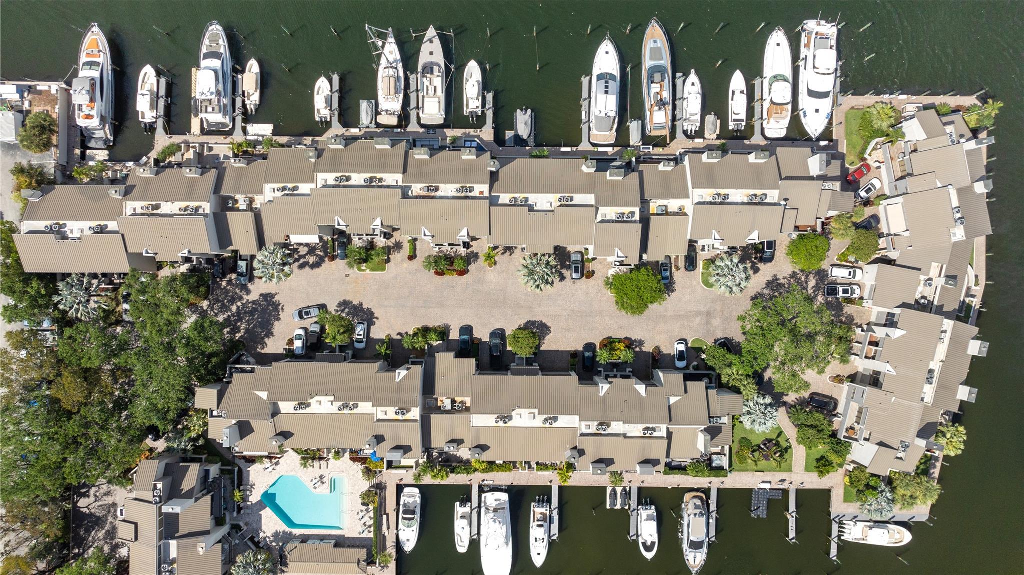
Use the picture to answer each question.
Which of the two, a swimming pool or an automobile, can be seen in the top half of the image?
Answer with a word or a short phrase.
automobile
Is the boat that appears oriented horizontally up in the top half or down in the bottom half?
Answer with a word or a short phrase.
bottom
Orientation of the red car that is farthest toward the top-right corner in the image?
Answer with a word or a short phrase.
diagonally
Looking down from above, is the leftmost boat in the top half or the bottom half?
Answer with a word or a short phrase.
top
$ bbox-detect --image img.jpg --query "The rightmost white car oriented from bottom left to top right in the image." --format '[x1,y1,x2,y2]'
[855,177,883,202]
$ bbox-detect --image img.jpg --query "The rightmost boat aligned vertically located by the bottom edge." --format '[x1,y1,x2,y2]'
[682,490,708,575]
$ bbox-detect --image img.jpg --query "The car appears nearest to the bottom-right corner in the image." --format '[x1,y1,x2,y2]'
[807,394,837,410]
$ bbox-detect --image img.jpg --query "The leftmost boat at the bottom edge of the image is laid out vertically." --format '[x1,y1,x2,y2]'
[399,486,422,555]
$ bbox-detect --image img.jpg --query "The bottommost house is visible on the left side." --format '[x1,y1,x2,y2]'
[285,533,371,575]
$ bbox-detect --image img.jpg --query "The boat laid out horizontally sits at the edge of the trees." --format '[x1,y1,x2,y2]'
[838,522,910,547]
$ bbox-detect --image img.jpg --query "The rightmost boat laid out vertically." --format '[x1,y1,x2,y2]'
[798,4,843,139]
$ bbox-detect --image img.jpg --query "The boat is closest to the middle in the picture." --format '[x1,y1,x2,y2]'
[515,106,534,140]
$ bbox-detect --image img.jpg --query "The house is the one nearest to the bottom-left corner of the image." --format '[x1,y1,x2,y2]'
[117,450,240,575]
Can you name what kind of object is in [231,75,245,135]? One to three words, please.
pier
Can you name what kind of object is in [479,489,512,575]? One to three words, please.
boat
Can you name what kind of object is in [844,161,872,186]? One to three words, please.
car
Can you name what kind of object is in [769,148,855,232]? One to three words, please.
house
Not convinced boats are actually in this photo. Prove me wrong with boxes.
[629,121,642,148]
[141,66,160,133]
[194,19,233,132]
[399,486,422,555]
[760,25,793,140]
[638,493,657,559]
[530,491,550,567]
[361,100,375,130]
[316,77,332,132]
[464,61,482,127]
[681,67,701,139]
[838,522,910,547]
[57,20,117,147]
[640,16,673,149]
[727,71,746,140]
[479,489,512,575]
[515,106,534,140]
[703,114,718,139]
[418,25,446,124]
[589,32,620,146]
[246,59,263,116]
[798,4,843,139]
[363,28,404,128]
[455,490,472,551]
[682,490,708,575]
